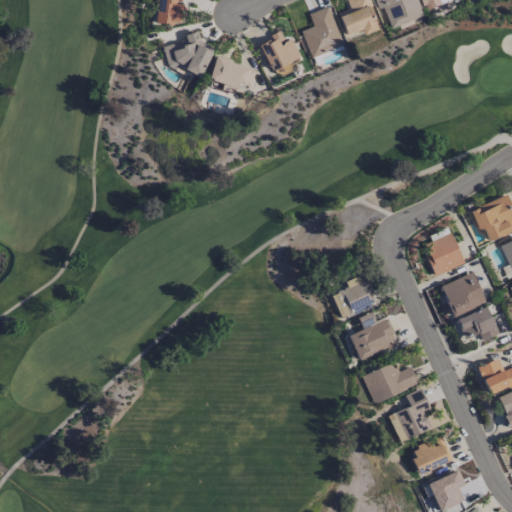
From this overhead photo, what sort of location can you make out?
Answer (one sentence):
This looks like a golf course.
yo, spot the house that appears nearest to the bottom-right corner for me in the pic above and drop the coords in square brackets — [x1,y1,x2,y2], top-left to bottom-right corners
[428,469,467,511]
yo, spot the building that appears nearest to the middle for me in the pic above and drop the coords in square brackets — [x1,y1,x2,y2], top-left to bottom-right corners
[333,279,377,318]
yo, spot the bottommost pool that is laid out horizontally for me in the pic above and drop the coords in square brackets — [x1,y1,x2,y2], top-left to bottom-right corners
[207,93,229,107]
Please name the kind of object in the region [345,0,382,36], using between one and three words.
house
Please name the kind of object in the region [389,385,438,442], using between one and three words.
house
